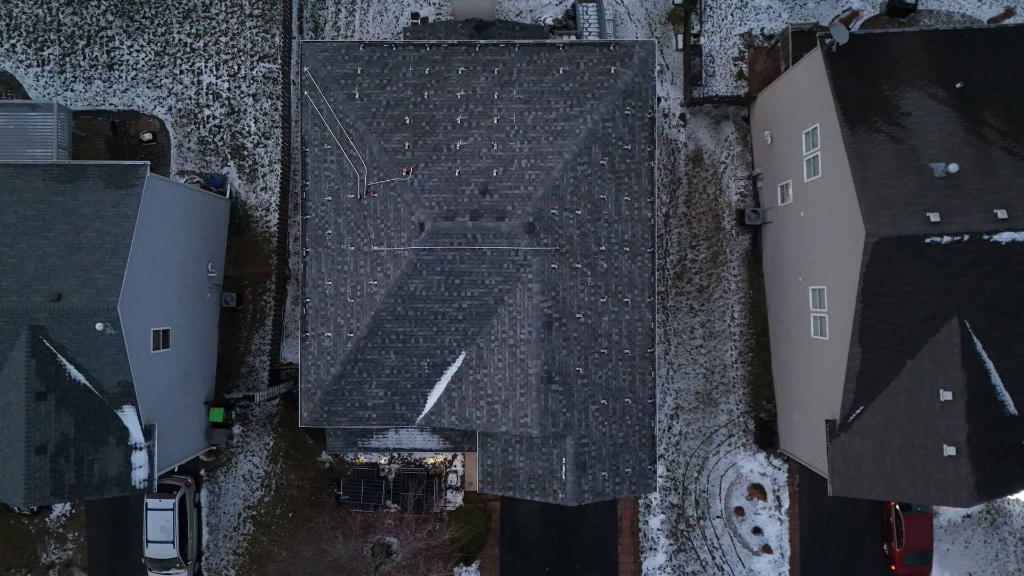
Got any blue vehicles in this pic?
No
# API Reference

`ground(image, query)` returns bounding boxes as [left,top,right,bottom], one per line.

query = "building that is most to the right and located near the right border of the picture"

[748,28,1024,503]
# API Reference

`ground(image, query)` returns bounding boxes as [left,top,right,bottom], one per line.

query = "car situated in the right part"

[877,496,937,574]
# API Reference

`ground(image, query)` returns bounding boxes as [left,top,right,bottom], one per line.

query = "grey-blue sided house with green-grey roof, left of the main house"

[0,157,233,507]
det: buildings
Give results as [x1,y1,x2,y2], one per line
[301,40,656,507]
[0,157,233,507]
[748,28,1024,503]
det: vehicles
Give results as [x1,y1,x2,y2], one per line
[877,496,937,574]
[142,472,202,576]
